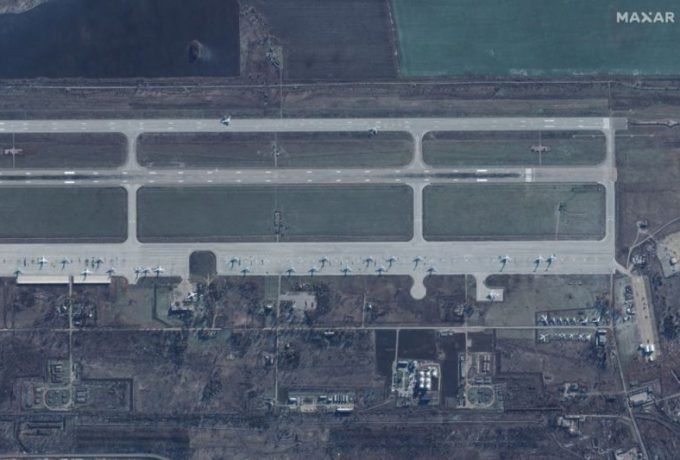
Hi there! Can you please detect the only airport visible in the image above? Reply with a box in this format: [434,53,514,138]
[0,117,633,311]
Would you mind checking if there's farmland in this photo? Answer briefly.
Yes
